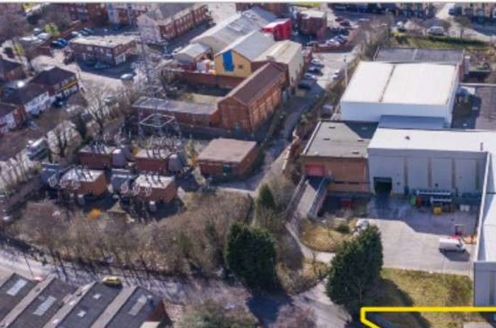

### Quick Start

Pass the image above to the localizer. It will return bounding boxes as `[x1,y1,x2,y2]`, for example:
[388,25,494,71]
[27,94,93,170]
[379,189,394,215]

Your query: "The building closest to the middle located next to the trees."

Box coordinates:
[198,141,259,180]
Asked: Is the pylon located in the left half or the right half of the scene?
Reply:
left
